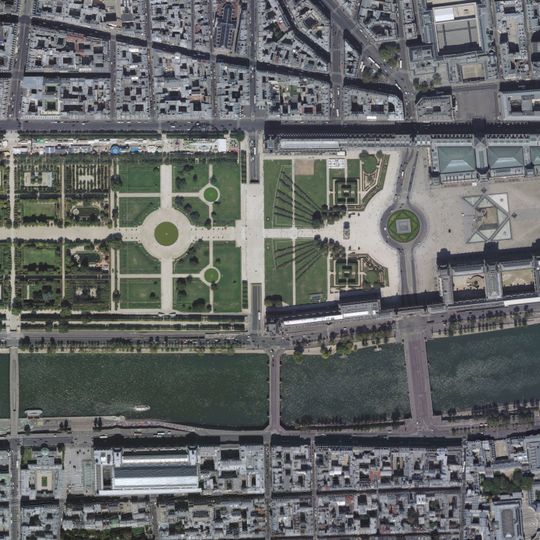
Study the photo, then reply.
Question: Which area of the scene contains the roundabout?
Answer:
right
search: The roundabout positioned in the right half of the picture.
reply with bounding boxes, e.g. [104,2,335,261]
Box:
[379,202,427,250]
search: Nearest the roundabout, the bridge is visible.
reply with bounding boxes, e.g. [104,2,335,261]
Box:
[403,334,434,422]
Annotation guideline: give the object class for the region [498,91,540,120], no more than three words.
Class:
building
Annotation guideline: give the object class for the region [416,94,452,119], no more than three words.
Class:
building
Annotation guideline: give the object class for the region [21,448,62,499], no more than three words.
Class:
house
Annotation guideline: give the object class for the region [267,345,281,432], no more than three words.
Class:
bridge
